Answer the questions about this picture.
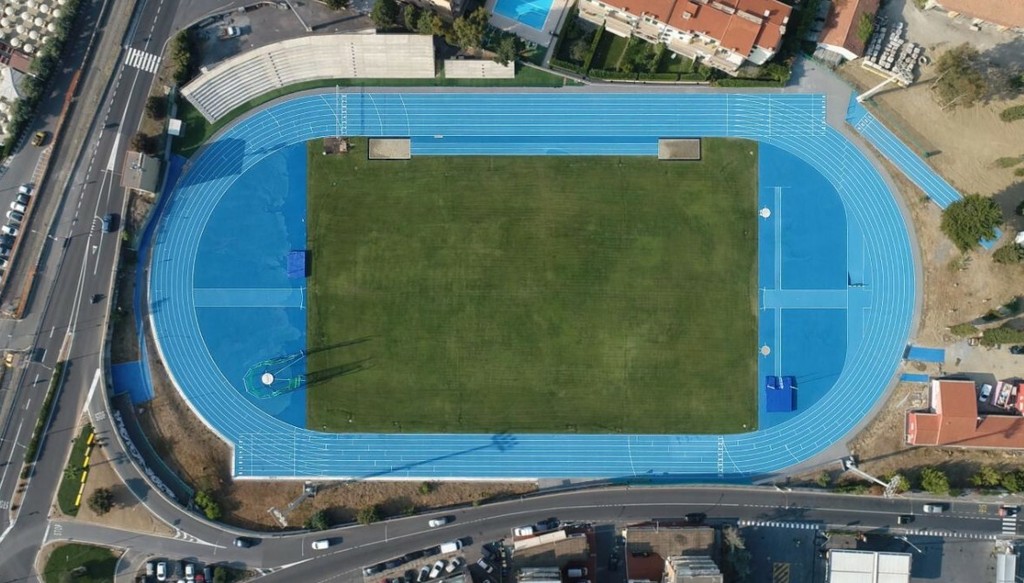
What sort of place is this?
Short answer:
sports ground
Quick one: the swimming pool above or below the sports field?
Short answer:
above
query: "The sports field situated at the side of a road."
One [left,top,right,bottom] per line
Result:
[307,137,758,434]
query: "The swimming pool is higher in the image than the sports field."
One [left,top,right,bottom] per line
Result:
[486,0,564,47]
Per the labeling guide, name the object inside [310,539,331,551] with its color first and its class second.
white vehicle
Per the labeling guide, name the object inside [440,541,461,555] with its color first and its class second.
white vehicle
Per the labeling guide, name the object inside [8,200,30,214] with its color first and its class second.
white car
